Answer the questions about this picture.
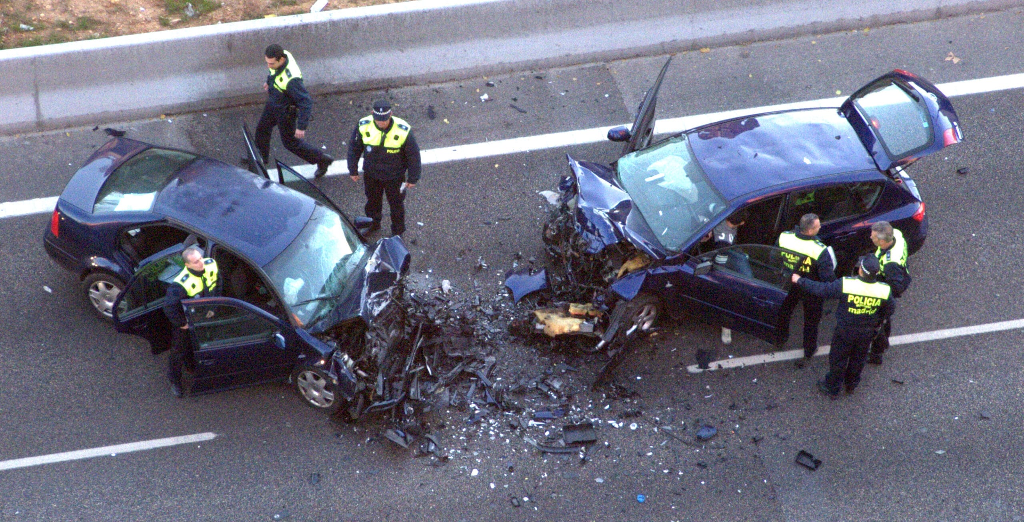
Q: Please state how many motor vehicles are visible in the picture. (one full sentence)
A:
Looking from above, you can make out 2 motor vehicles.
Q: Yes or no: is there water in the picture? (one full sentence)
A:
No, the scene doesn't show any water.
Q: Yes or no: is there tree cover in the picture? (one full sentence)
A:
No, no tree cover is visible.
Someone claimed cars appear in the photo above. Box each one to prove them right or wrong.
[515,66,958,383]
[47,128,445,415]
